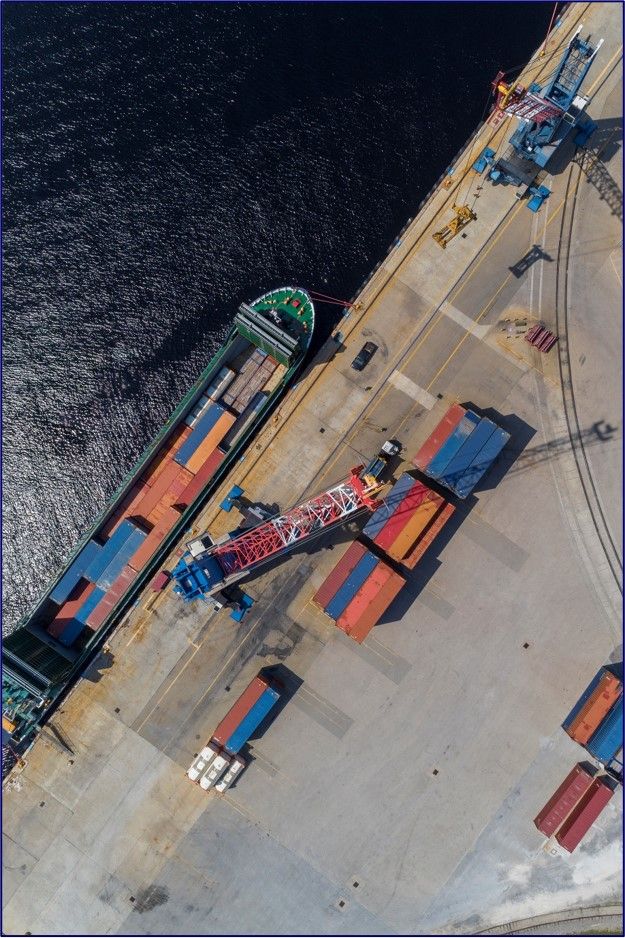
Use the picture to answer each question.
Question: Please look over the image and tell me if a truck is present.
Yes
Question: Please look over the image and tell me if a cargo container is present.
Yes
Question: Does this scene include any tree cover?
No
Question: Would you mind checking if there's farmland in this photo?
No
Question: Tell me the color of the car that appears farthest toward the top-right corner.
black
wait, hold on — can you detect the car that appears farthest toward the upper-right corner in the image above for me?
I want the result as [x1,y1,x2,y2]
[352,343,376,371]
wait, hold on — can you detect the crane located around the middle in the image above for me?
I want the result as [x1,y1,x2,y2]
[171,464,390,618]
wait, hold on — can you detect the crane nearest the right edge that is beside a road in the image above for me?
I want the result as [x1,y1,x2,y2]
[472,14,616,211]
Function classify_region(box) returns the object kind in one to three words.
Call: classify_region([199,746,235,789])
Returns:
truck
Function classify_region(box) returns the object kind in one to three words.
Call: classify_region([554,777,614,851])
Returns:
shipping container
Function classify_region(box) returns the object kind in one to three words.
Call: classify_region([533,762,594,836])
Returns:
shipping container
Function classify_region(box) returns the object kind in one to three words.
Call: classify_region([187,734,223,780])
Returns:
truck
